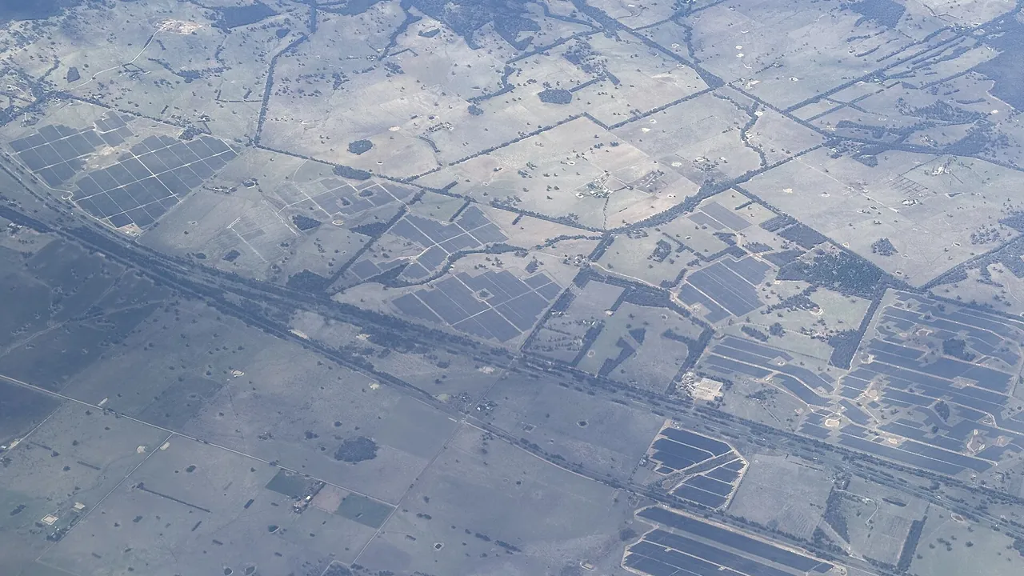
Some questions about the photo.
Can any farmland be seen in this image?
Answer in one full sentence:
Yes, some farmland is visible.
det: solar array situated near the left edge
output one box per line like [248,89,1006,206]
[9,110,241,227]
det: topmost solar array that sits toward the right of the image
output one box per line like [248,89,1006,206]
[687,201,751,230]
